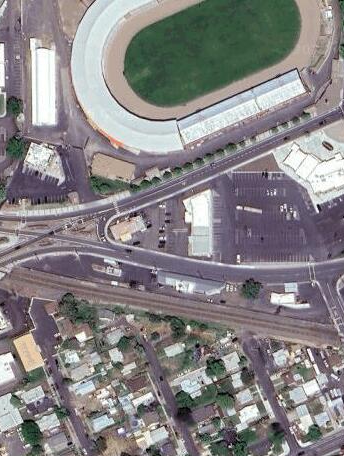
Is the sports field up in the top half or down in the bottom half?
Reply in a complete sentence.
It is in the top half that the sports field appears.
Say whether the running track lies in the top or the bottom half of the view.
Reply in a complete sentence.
The running track sits in the top half of the picture.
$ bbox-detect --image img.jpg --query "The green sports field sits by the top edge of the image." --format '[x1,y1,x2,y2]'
[127,0,298,104]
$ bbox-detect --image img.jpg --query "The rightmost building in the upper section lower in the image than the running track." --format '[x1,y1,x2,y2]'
[283,143,344,194]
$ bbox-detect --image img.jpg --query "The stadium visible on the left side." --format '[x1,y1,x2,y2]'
[71,0,183,160]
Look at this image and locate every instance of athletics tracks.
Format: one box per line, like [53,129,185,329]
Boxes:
[106,0,317,123]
